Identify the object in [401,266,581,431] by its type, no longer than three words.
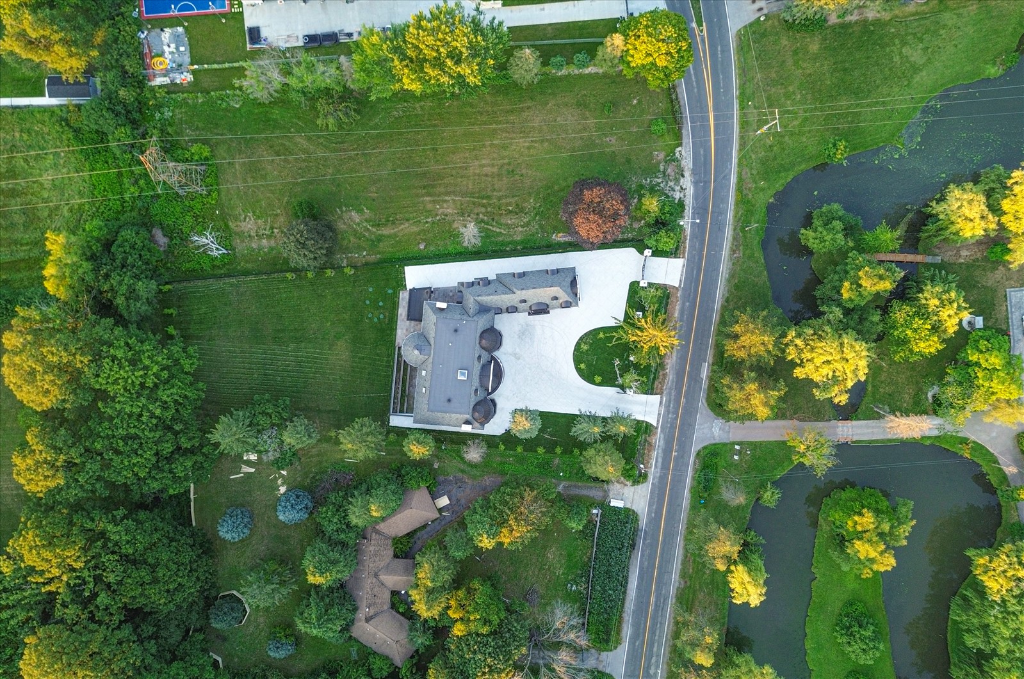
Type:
house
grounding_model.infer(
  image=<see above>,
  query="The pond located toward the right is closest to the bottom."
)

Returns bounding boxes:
[725,441,998,679]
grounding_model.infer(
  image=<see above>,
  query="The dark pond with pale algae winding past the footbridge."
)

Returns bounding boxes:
[764,48,1024,418]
